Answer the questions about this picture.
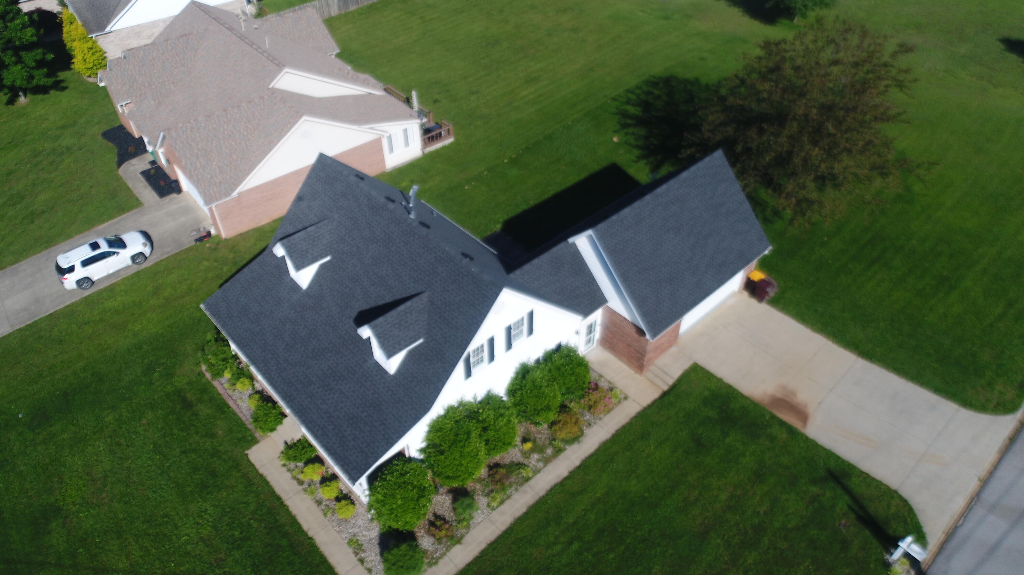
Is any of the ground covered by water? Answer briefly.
No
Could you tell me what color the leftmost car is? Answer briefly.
white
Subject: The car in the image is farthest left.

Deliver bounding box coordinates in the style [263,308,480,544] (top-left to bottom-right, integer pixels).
[48,231,153,289]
